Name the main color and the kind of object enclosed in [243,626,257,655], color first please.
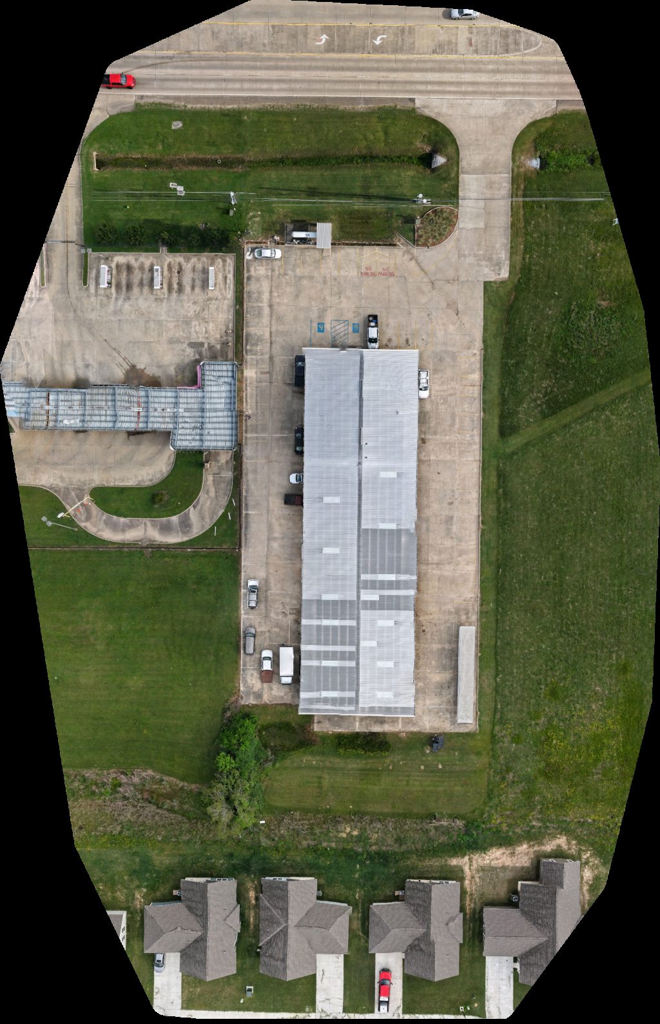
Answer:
gray car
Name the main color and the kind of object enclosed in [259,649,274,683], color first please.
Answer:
white vehicle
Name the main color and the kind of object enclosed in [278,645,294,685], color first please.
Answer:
white vehicle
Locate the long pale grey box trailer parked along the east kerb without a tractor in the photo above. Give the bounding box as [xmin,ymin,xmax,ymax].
[456,625,475,724]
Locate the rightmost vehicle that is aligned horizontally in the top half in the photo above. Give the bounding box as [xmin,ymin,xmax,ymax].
[450,8,480,21]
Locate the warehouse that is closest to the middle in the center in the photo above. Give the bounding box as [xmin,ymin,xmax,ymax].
[299,348,419,717]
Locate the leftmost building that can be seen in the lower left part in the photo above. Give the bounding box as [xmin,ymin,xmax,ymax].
[108,907,125,948]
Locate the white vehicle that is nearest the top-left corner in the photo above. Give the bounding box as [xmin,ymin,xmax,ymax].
[253,246,282,260]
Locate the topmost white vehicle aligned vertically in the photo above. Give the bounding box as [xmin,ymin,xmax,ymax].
[365,314,381,349]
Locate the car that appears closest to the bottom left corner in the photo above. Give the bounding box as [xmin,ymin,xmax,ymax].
[152,953,165,972]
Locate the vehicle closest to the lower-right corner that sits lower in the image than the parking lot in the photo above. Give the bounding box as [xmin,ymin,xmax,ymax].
[378,968,392,1011]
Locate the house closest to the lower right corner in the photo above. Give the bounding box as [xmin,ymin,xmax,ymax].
[484,859,584,989]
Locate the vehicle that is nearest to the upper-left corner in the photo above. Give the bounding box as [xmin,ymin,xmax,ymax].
[102,72,136,89]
